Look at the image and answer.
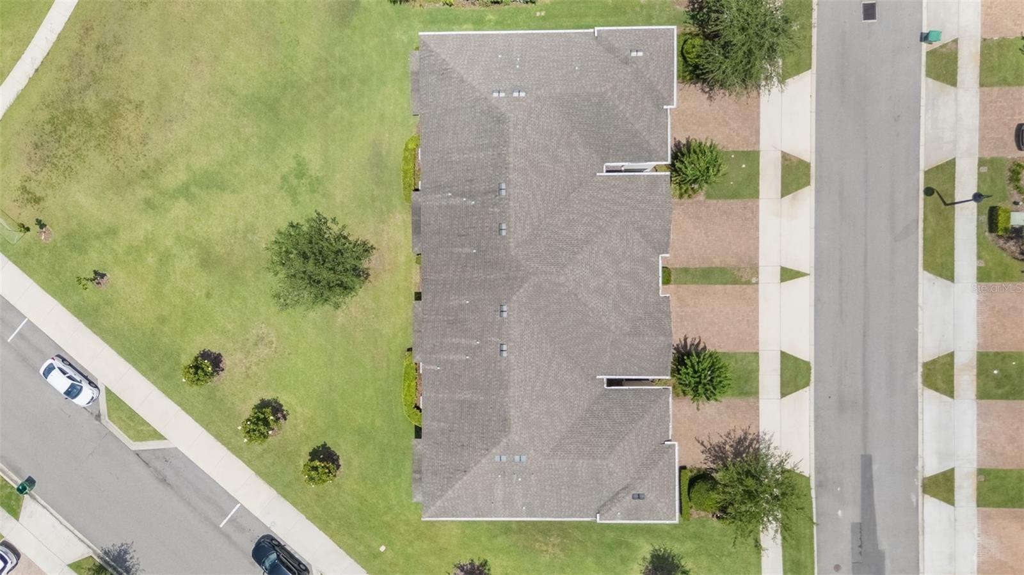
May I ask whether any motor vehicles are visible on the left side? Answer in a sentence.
Yes, on the left side there is a motor vehicle.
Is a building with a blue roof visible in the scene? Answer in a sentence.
No, there's no building with a blue roof here.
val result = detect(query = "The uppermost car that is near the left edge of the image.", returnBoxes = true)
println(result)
[38,354,102,408]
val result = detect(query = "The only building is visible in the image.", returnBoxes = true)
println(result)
[410,26,679,524]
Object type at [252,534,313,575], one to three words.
car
